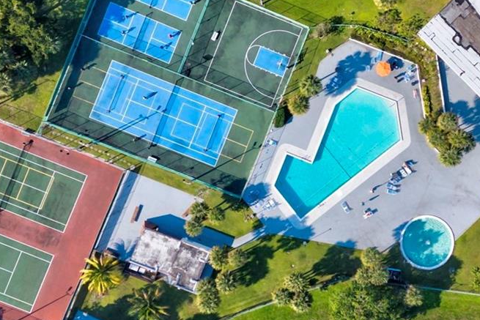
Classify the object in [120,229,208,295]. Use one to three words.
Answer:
building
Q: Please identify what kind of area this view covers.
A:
sports ground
